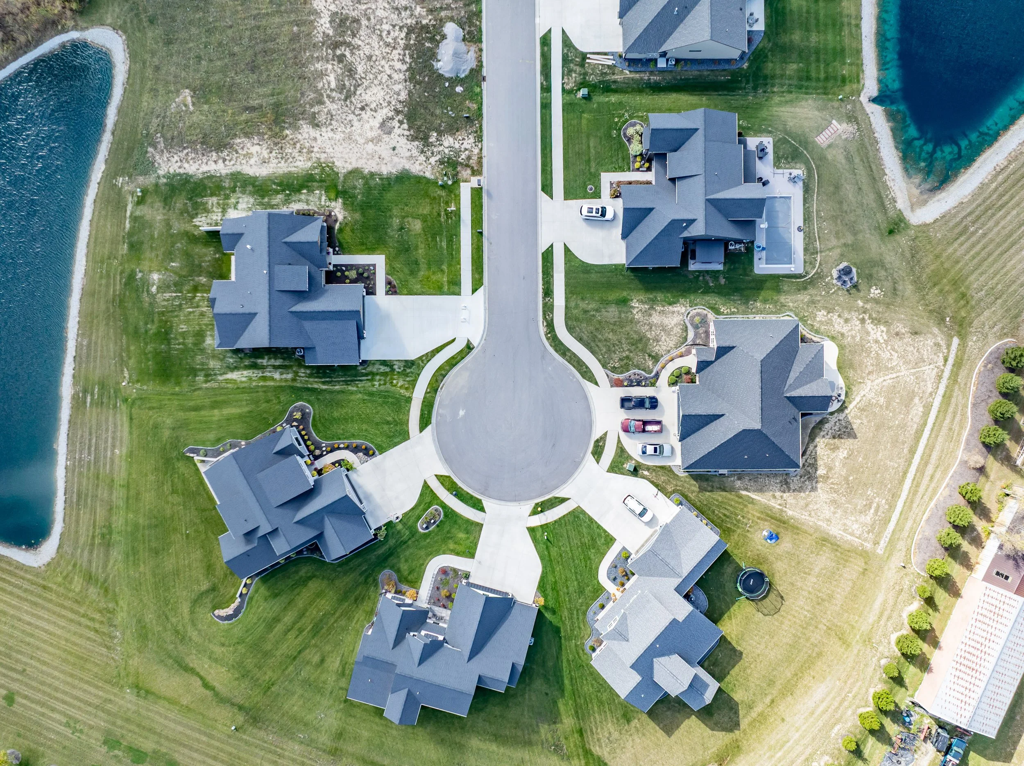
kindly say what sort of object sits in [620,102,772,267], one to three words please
house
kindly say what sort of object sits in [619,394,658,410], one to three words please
vehicle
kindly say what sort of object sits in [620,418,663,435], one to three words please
vehicle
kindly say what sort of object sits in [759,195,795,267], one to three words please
swimming pool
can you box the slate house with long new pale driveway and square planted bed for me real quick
[207,210,370,365]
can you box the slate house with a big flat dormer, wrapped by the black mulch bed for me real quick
[203,426,379,581]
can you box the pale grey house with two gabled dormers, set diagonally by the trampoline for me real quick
[591,502,728,713]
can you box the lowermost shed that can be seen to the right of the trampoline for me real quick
[915,579,1024,739]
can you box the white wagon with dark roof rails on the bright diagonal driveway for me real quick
[623,491,652,525]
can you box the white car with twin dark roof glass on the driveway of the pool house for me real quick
[579,205,614,221]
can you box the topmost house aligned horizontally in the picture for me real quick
[618,0,748,60]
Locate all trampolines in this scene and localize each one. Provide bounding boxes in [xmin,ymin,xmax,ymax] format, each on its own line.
[731,564,774,603]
